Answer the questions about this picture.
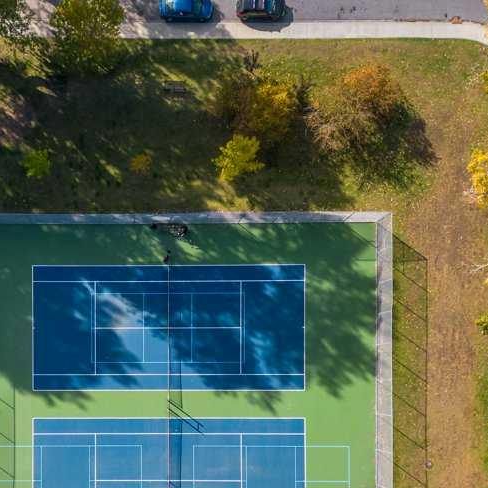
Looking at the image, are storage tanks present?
No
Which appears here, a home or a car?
car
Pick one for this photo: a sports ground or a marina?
sports ground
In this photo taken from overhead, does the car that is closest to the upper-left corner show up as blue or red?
blue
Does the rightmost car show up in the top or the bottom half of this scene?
top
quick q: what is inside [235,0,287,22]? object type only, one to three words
car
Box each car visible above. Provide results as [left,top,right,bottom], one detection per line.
[159,0,212,23]
[235,0,287,22]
